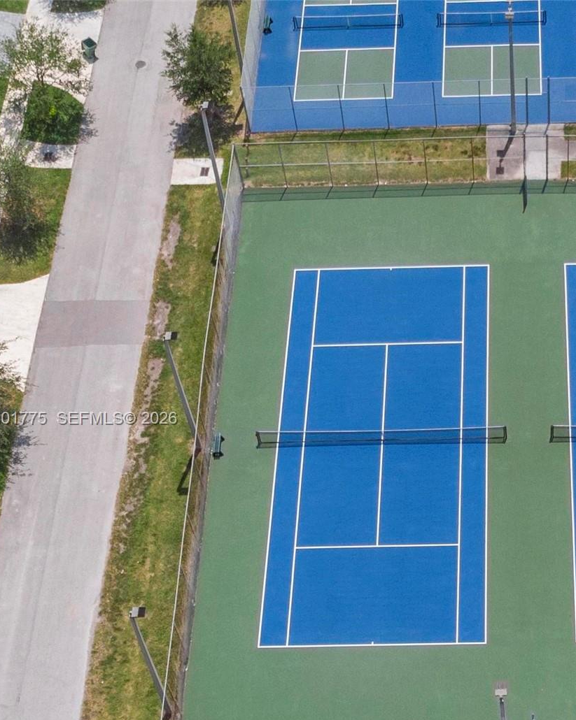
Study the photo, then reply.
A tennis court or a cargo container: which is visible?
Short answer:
tennis court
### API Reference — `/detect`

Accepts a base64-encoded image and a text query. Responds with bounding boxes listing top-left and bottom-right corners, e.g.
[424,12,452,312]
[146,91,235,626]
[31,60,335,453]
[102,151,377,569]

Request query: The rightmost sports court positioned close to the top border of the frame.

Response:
[443,0,542,96]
